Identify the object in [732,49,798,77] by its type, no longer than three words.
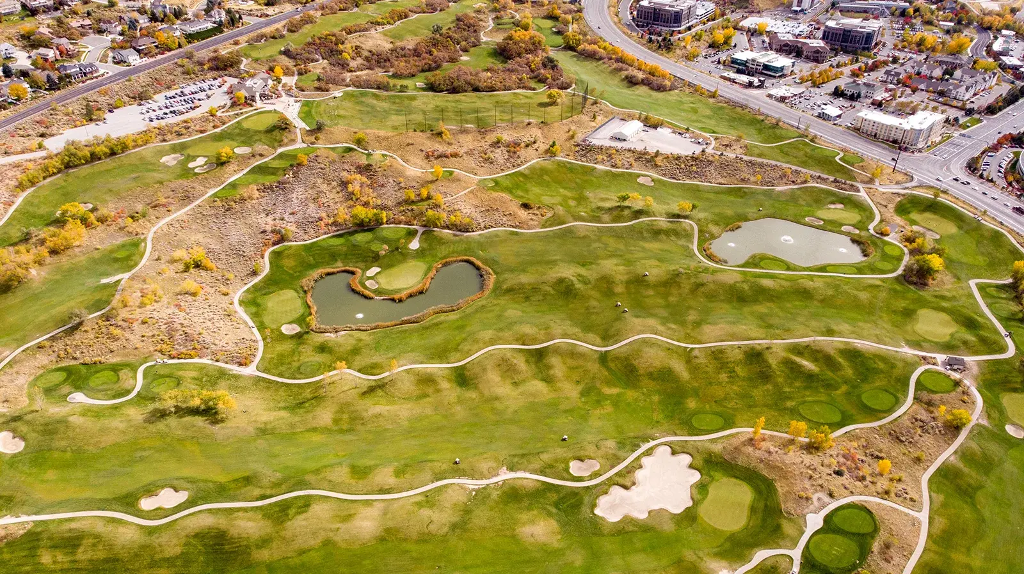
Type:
building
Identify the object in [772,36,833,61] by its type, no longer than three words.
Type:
building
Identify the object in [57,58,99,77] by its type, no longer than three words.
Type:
house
